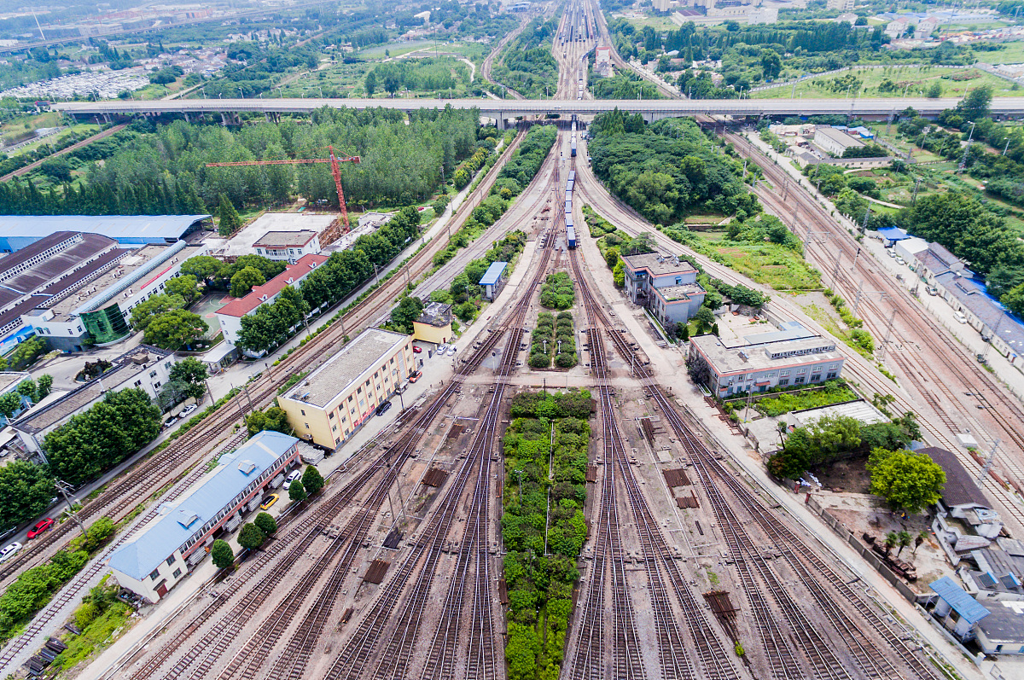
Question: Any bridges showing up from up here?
Yes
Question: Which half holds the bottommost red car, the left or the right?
left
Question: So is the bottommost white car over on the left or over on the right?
left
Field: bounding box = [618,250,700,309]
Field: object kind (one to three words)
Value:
building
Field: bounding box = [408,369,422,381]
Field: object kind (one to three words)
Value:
vehicle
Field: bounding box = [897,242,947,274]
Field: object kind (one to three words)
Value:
house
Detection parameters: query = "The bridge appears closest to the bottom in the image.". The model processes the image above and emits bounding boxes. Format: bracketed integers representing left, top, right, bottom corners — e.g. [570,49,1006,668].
[51,96,1024,126]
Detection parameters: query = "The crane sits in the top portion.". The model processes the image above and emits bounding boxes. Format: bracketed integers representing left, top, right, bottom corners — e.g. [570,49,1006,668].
[207,147,363,231]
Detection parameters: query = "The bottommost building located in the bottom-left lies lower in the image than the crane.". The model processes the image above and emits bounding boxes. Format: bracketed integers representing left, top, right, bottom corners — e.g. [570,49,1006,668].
[111,433,301,605]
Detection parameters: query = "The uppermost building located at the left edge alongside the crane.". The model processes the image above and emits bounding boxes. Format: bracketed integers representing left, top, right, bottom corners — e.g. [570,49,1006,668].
[0,207,197,253]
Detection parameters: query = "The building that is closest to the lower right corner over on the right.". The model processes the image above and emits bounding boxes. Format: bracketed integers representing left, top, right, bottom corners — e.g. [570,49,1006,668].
[970,597,1024,658]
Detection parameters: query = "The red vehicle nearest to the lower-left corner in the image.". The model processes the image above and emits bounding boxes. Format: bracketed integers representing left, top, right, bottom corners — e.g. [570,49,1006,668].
[22,517,54,540]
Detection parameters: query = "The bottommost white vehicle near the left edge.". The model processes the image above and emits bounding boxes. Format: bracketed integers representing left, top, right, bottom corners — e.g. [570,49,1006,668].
[0,538,24,561]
